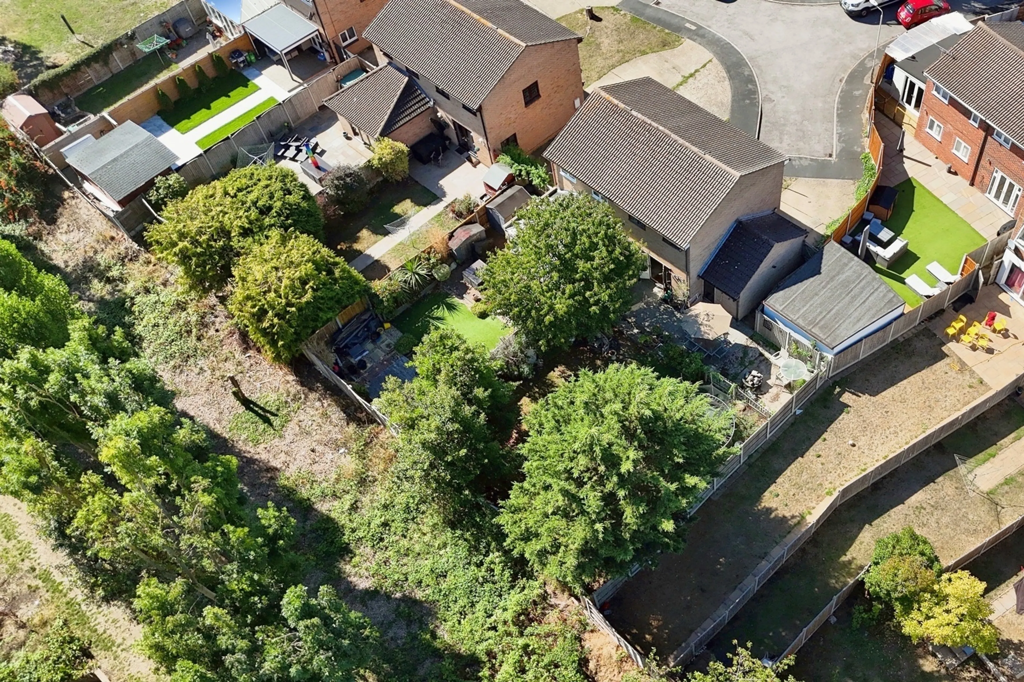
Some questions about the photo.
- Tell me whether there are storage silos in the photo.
No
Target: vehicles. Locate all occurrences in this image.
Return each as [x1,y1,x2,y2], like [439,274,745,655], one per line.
[895,0,952,32]
[842,0,903,20]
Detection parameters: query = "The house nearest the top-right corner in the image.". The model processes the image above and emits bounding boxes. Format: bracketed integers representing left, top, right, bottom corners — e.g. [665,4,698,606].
[895,18,1024,212]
